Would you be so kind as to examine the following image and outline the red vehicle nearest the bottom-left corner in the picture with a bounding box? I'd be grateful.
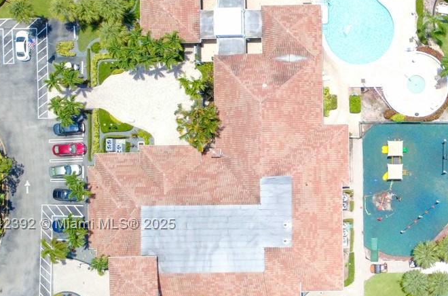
[53,142,87,157]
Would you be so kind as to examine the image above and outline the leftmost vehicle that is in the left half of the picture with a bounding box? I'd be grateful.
[14,31,32,62]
